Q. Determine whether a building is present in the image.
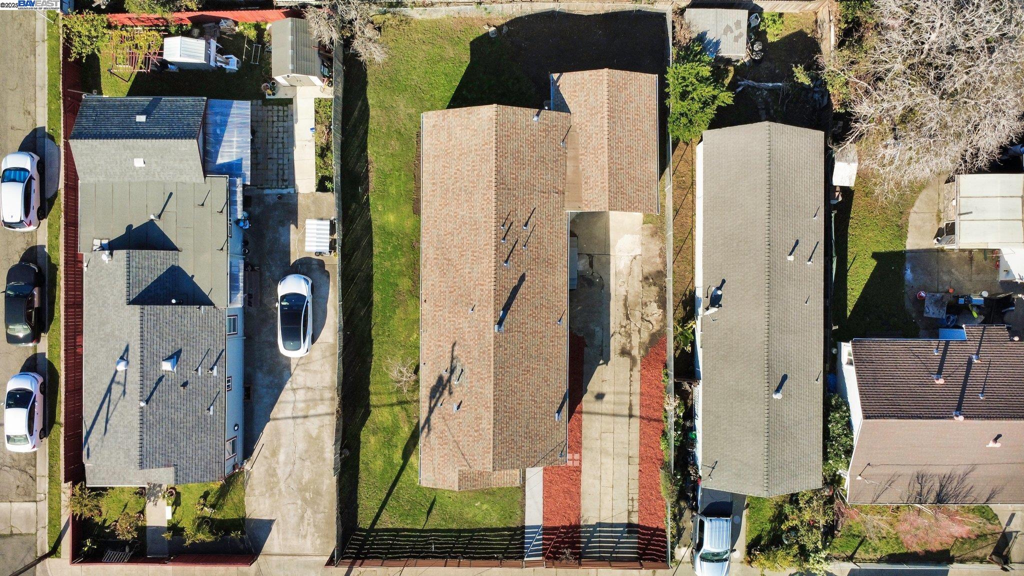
Yes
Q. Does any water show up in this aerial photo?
No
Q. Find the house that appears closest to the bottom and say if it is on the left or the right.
right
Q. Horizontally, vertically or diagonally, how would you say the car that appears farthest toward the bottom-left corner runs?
vertically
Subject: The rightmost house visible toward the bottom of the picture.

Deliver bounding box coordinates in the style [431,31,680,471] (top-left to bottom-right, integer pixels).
[837,324,1024,505]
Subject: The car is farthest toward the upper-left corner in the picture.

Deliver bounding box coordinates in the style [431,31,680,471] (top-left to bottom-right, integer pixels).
[1,152,46,232]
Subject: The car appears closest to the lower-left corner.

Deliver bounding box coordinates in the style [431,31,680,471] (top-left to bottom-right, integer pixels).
[5,371,47,453]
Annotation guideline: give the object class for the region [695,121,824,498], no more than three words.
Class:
house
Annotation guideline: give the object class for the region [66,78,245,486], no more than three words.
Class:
house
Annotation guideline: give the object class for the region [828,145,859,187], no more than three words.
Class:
shed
